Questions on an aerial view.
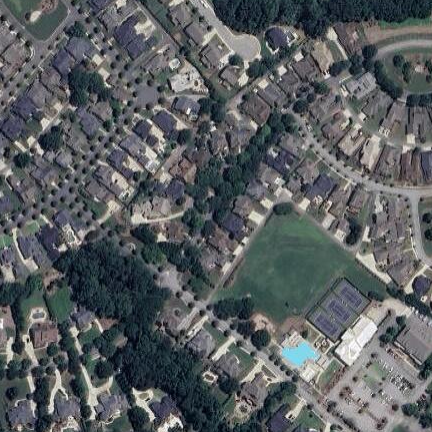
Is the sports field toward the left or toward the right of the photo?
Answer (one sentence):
The sports field appears in the right half of the scene.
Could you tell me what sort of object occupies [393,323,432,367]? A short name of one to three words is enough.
building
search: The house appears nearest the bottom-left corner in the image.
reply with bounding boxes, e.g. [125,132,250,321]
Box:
[8,396,38,428]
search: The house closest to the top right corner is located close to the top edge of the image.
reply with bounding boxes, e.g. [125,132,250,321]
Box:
[335,20,365,56]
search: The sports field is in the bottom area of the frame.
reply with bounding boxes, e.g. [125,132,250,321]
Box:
[212,214,386,326]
